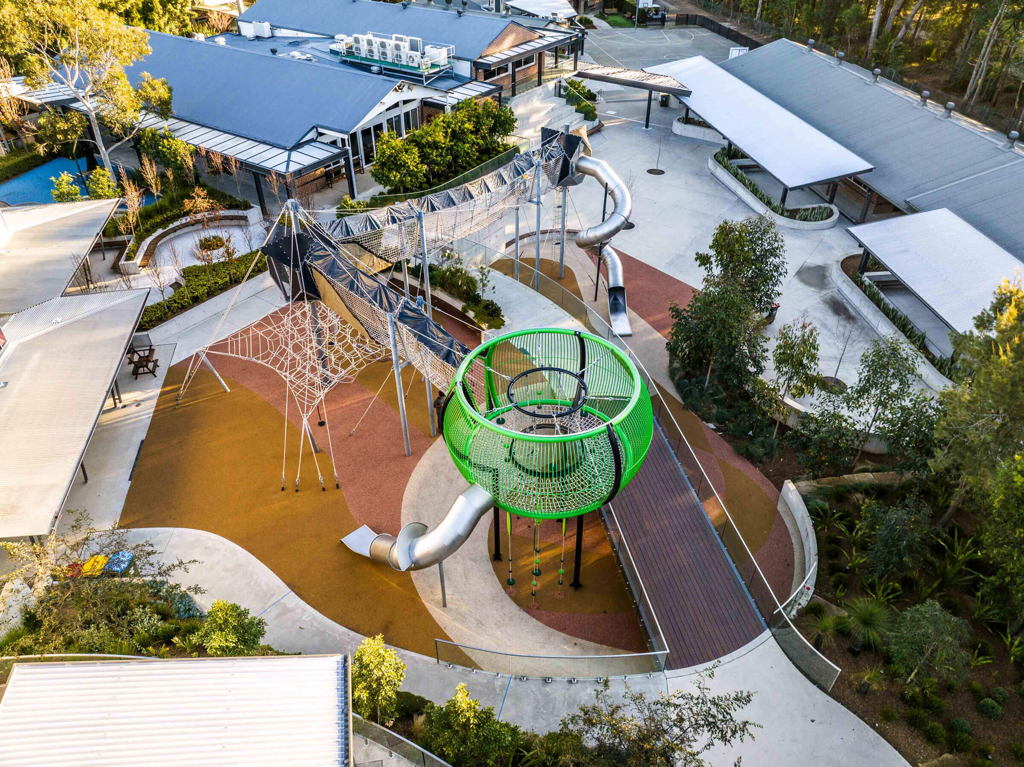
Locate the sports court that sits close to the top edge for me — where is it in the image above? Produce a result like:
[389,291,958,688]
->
[582,27,753,99]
